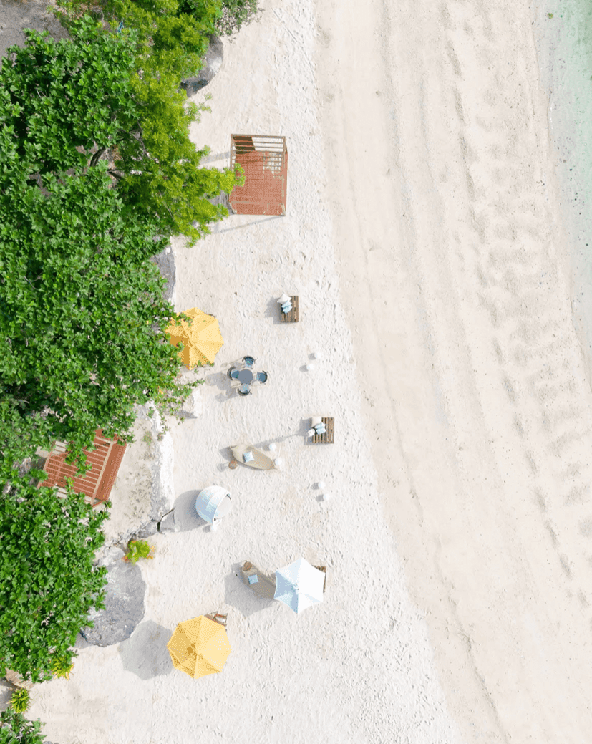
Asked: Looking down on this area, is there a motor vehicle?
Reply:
No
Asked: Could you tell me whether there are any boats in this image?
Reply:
No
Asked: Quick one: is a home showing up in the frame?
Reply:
No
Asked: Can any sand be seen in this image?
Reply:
Yes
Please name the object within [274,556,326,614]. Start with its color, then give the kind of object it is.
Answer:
white umbrella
